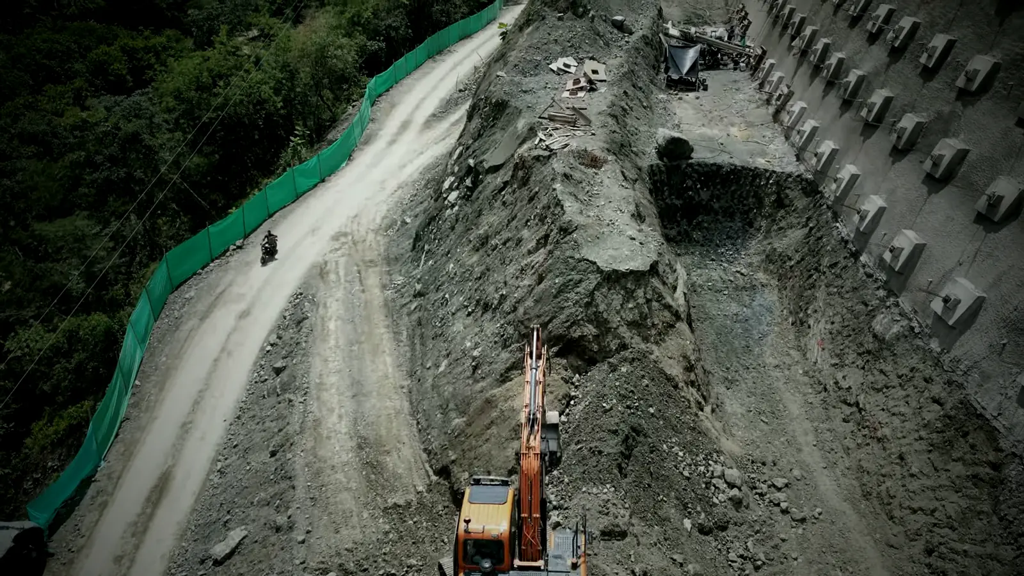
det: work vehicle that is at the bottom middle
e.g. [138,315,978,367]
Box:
[434,316,599,576]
